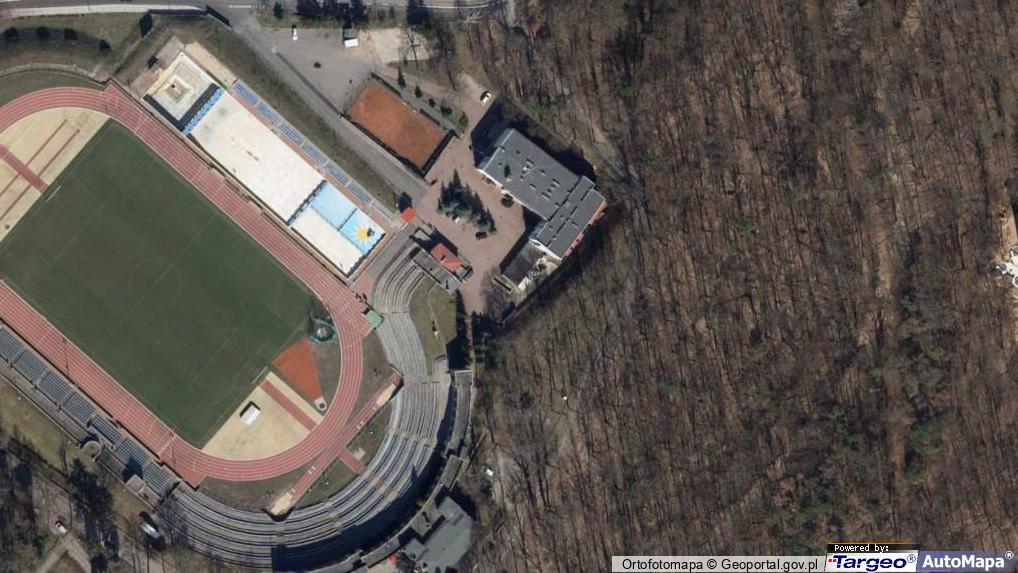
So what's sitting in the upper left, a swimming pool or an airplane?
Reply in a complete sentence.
There is a swimming pool in the upper left.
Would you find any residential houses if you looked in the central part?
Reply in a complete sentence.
Yes, a residential house is visible in the central part.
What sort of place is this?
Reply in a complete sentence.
It's a sports ground.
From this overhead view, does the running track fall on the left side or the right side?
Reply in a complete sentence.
The running track appears in the left half of the scene.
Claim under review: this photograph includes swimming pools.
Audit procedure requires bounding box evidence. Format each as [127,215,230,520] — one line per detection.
[292,207,365,276]
[184,90,326,224]
[338,208,386,255]
[310,183,357,230]
[143,52,218,128]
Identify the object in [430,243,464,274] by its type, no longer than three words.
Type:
house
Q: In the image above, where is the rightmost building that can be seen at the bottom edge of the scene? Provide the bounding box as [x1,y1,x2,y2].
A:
[403,495,473,573]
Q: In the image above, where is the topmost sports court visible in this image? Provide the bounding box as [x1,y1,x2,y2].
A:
[344,77,449,169]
